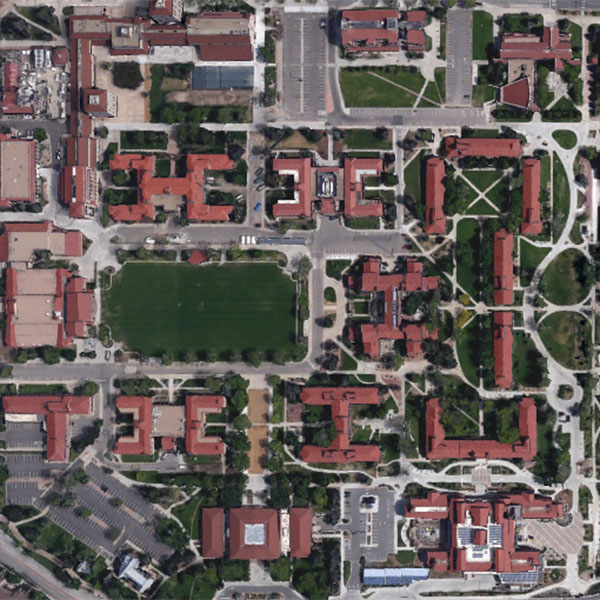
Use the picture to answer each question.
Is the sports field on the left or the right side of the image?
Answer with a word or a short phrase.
left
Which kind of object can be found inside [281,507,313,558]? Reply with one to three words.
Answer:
building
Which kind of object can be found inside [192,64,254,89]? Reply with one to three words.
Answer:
sports court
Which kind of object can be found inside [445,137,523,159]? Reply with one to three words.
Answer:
building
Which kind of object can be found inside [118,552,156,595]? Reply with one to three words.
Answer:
house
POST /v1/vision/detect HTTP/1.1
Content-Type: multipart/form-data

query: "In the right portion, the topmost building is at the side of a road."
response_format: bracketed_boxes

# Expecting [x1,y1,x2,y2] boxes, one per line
[342,10,426,53]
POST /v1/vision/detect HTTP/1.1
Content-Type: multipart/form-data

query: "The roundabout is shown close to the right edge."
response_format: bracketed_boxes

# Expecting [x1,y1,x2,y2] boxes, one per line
[546,366,584,415]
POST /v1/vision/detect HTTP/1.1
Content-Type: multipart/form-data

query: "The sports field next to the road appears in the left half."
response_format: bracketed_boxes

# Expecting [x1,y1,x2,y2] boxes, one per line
[101,261,299,360]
